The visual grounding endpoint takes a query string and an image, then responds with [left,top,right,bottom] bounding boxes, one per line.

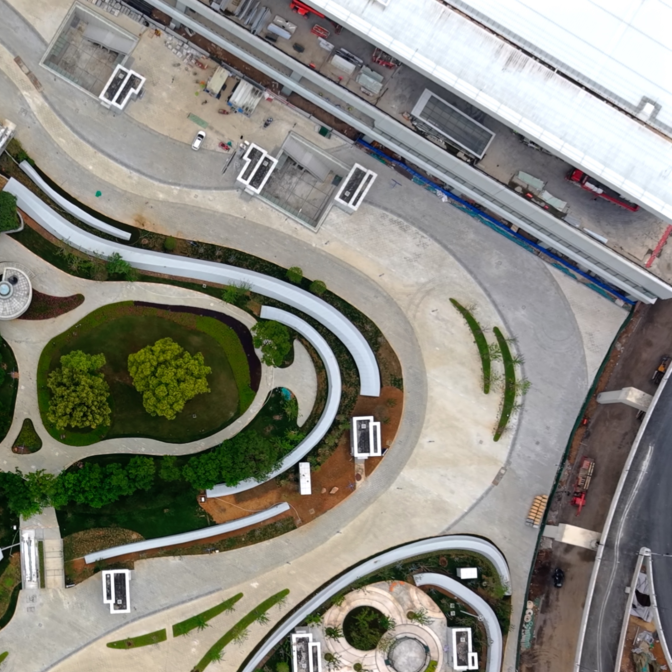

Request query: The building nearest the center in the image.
[351,416,381,459]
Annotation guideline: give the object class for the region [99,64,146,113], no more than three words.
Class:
building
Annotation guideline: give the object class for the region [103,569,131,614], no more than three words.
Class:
building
